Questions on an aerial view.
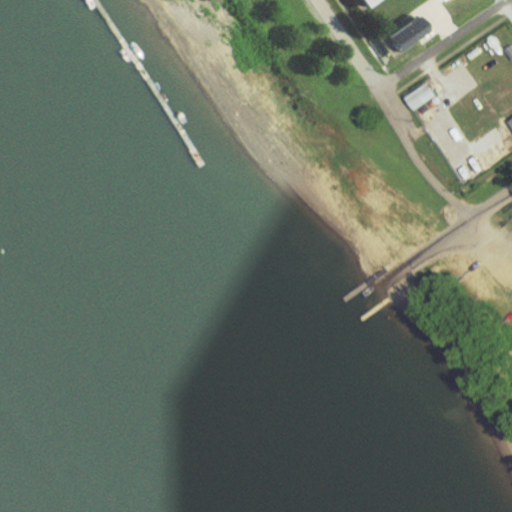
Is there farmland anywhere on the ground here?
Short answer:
No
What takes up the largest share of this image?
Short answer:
water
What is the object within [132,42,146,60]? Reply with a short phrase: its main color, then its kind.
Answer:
white boat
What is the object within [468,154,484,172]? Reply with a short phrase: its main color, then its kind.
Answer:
white vehicle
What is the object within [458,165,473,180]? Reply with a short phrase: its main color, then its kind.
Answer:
white vehicle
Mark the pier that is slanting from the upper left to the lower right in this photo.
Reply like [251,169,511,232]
[94,0,204,164]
